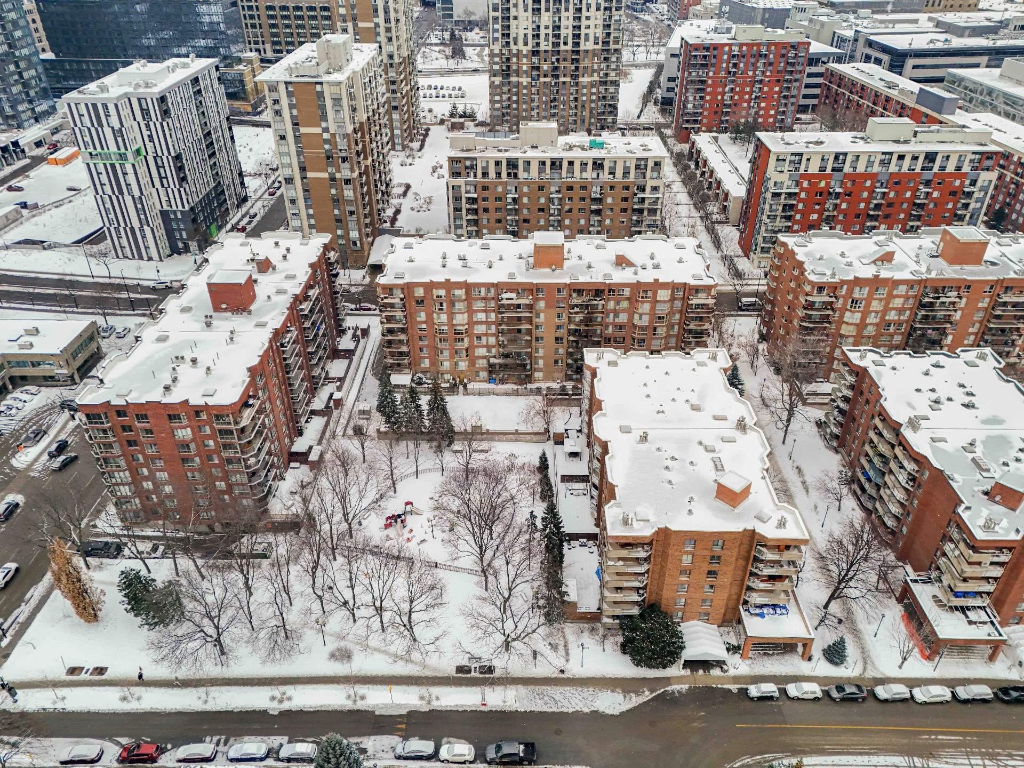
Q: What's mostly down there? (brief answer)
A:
buildings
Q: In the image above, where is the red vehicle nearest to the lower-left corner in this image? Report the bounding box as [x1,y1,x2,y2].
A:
[115,742,160,765]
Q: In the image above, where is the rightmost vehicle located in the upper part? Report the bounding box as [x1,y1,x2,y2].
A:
[737,296,762,308]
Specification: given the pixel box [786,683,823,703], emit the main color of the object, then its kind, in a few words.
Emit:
white car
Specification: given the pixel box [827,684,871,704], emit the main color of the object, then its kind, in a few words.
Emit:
gray car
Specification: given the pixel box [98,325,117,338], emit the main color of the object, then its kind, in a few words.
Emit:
gray vehicle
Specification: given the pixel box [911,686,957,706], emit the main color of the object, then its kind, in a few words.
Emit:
white car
